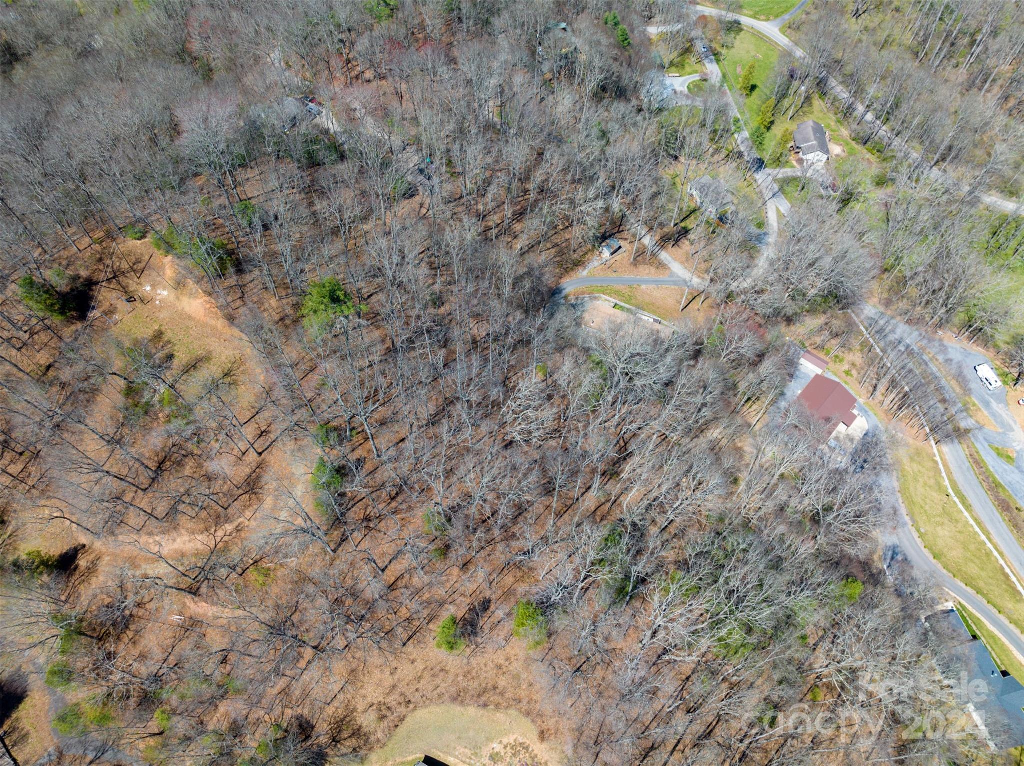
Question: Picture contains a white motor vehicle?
Yes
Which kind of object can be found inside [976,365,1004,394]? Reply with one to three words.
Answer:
vehicle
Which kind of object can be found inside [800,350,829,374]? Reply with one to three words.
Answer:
building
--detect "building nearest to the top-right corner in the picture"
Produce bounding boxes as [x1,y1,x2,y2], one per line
[785,118,830,166]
